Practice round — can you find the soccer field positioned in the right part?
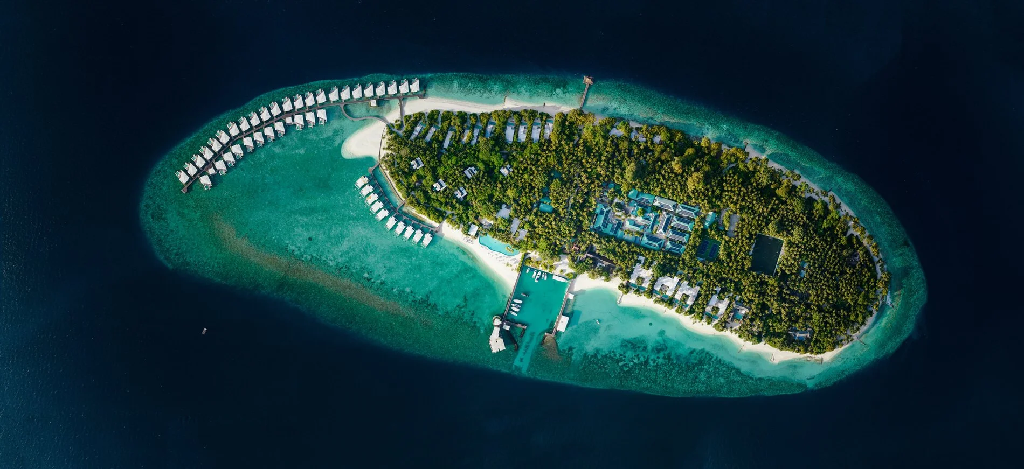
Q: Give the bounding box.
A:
[750,234,785,276]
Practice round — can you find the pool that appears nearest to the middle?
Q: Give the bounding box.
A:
[479,234,520,256]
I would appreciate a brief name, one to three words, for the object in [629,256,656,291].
house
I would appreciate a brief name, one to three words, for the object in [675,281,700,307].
house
